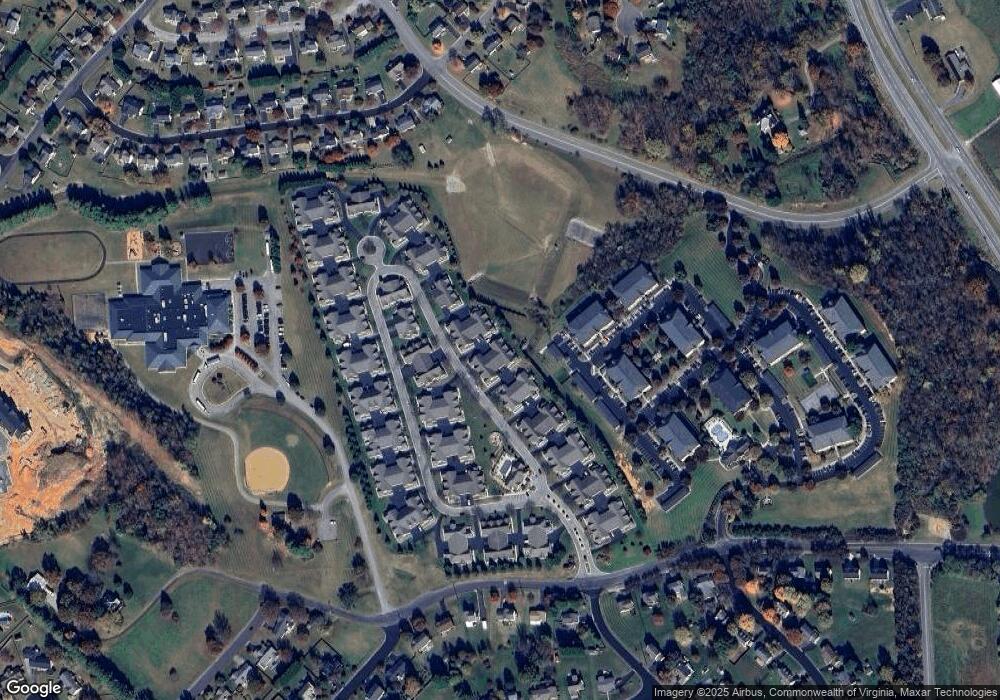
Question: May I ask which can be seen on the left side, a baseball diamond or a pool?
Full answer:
Visible on the left side is a baseball diamond.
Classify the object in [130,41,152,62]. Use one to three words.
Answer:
house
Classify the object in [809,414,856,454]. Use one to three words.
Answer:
building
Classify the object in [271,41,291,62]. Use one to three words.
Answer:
house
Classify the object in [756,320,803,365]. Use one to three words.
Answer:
building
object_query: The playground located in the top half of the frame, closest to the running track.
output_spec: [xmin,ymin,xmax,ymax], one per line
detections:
[128,231,143,259]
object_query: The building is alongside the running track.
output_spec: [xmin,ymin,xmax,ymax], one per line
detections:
[107,259,231,376]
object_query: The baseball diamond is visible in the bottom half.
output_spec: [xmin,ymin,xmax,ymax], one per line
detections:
[245,448,290,495]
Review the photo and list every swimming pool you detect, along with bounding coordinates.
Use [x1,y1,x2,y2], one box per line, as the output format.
[703,416,736,449]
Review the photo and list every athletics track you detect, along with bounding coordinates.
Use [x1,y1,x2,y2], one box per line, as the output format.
[0,231,104,286]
